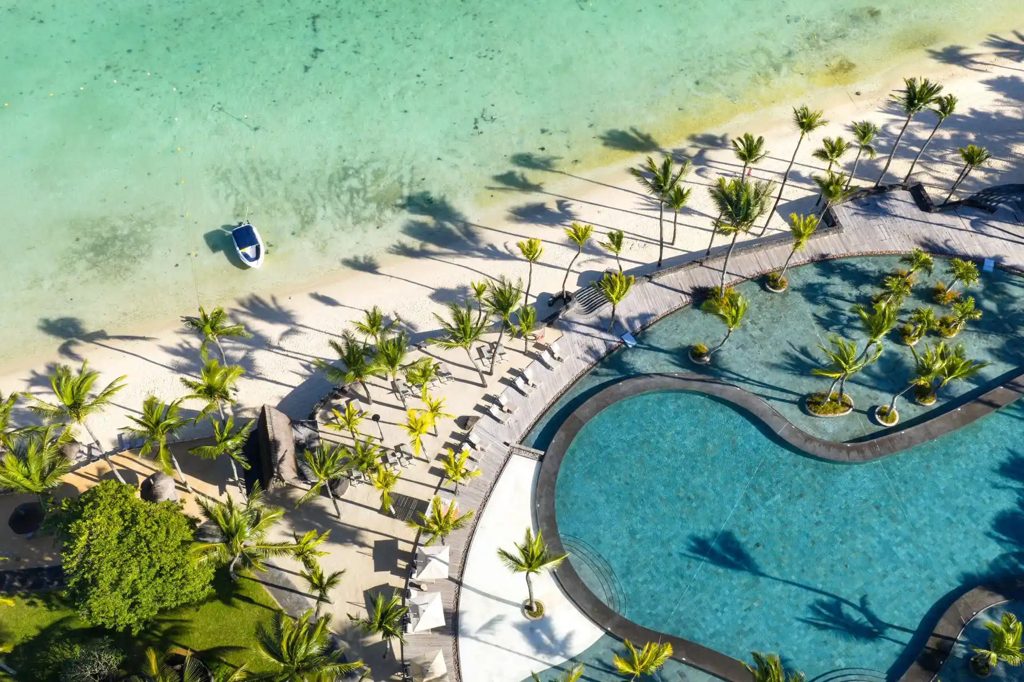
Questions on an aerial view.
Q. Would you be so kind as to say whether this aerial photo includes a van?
No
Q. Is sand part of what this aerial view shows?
Yes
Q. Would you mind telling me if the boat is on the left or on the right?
left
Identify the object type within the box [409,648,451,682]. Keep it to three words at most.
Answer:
umbrella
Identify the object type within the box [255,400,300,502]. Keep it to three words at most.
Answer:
building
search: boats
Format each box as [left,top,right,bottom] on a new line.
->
[232,227,265,274]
